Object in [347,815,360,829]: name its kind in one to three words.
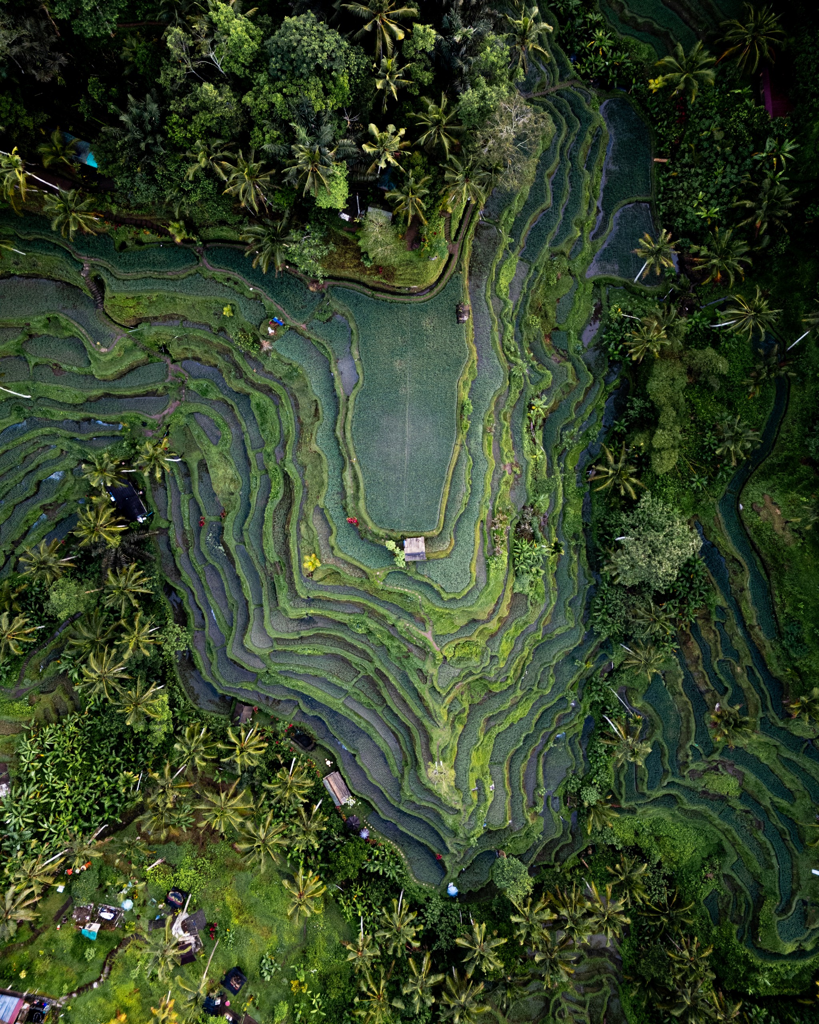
umbrella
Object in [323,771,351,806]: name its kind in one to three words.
building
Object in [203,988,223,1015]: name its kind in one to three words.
shed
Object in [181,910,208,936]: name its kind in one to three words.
shed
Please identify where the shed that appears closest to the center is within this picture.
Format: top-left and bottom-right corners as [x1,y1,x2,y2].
[405,537,426,561]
